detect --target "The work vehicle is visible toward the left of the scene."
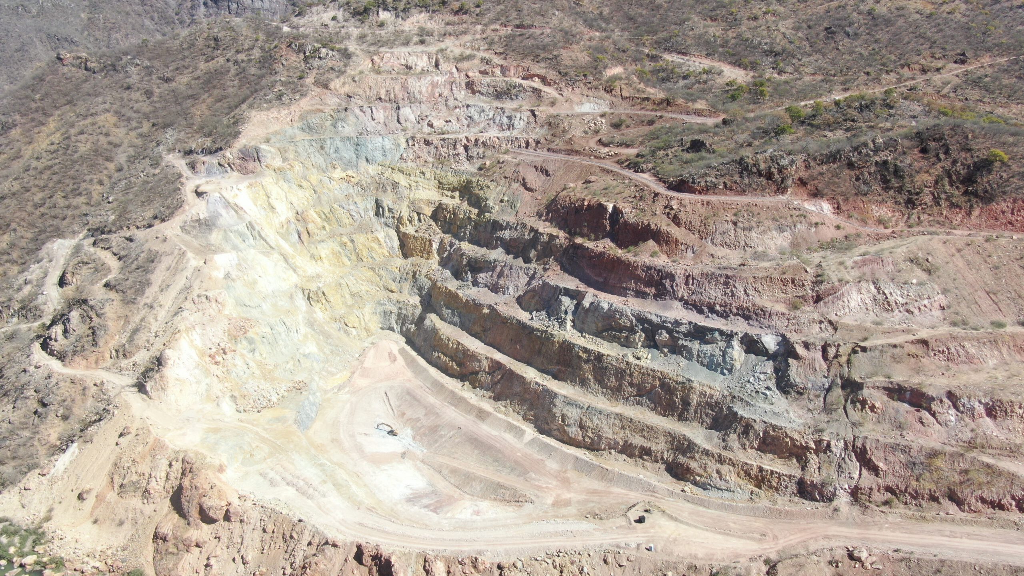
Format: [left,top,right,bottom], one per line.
[375,419,401,434]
